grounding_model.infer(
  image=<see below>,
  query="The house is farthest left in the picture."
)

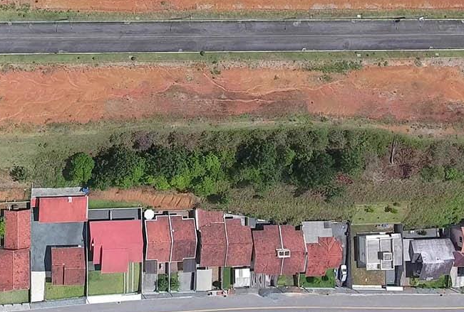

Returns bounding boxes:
[0,210,30,292]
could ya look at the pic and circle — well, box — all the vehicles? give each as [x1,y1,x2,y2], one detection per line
[341,264,348,282]
[334,268,340,281]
